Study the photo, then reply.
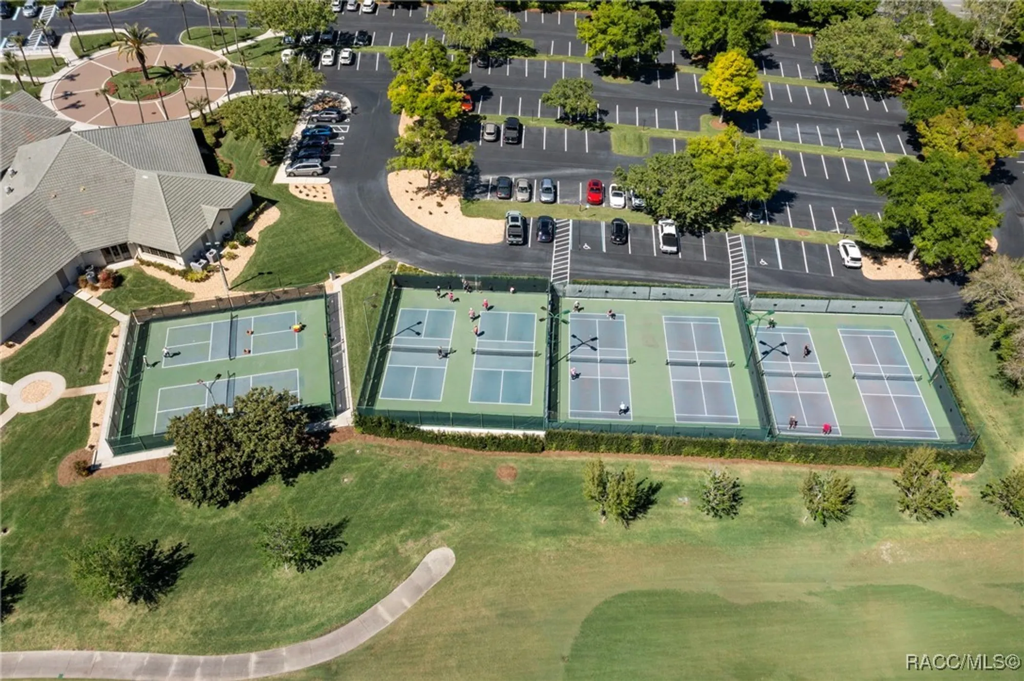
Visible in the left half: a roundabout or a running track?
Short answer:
roundabout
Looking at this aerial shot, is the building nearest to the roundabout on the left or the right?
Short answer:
left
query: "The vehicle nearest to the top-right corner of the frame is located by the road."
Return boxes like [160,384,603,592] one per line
[841,239,864,267]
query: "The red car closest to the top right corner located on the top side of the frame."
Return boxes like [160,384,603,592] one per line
[587,179,604,202]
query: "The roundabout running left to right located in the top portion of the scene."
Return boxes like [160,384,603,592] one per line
[49,43,236,126]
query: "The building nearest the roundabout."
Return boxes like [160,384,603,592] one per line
[0,90,255,340]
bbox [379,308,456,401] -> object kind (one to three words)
sports court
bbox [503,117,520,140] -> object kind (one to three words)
vehicle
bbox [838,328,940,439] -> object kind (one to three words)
sports court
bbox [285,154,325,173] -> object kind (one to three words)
car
